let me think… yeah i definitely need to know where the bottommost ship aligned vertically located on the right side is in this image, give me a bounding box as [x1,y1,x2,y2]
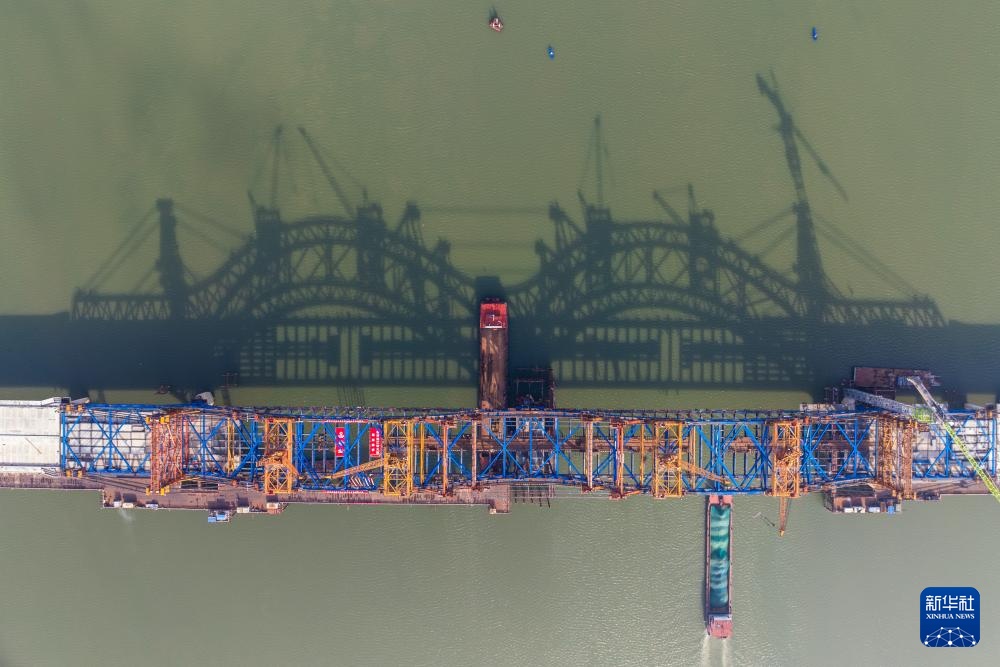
[707,479,733,639]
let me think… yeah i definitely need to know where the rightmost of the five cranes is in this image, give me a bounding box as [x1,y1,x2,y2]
[827,372,1000,503]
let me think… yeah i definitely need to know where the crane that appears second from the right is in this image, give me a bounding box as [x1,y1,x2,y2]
[752,417,799,536]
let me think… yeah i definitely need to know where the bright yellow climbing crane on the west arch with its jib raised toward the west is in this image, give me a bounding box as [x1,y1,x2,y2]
[330,414,415,494]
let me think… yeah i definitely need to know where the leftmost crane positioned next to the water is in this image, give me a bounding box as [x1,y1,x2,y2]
[256,413,302,493]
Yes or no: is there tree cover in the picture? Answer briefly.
No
